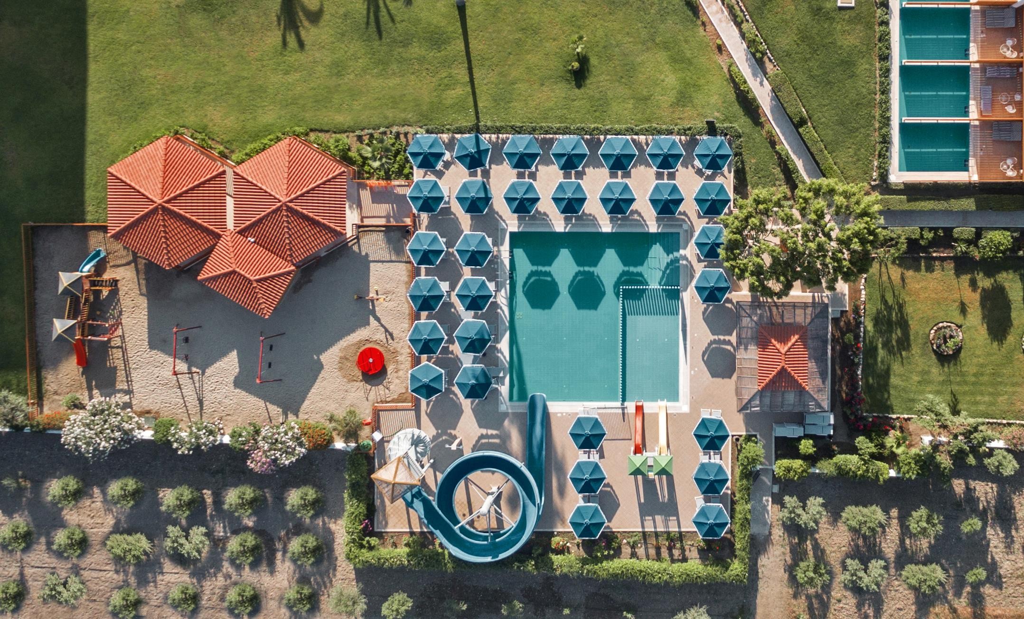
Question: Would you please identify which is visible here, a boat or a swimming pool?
swimming pool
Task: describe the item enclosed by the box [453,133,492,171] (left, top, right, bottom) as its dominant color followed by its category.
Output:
blue umbrella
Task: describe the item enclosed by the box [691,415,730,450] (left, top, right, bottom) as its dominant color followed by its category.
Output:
blue umbrella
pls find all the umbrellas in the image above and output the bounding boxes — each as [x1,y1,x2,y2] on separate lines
[454,179,493,215]
[597,180,637,215]
[598,136,636,170]
[503,180,541,215]
[551,180,590,215]
[693,224,731,260]
[567,504,607,539]
[453,318,493,355]
[407,277,446,312]
[550,136,590,171]
[647,135,686,171]
[407,135,446,170]
[567,415,606,450]
[692,181,732,216]
[454,232,494,267]
[691,415,730,450]
[503,134,541,169]
[405,179,445,214]
[693,268,732,303]
[410,362,445,402]
[407,231,446,266]
[454,364,493,400]
[454,277,494,312]
[694,136,733,172]
[692,459,732,495]
[453,133,492,171]
[568,459,606,494]
[406,320,446,356]
[692,504,731,539]
[646,181,685,217]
